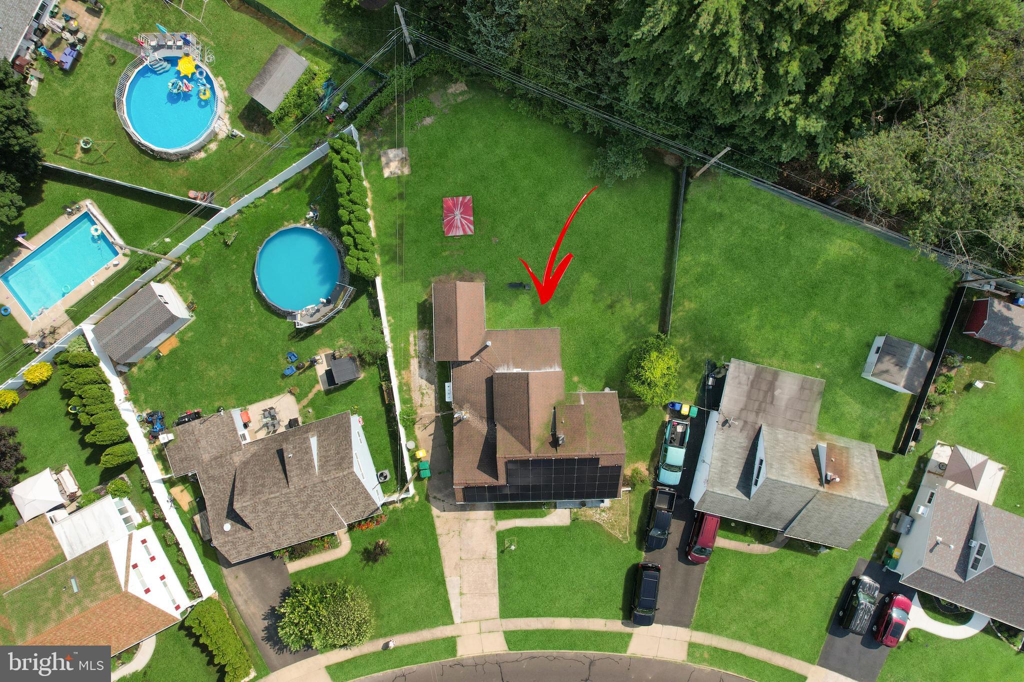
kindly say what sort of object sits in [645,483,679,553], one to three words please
truck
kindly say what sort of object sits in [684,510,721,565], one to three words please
car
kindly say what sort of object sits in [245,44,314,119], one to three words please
shed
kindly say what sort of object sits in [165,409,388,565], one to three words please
house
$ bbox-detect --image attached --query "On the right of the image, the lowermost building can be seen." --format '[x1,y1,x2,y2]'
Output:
[883,482,1024,632]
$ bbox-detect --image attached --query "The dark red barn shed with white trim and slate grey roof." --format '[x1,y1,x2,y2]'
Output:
[958,297,1024,354]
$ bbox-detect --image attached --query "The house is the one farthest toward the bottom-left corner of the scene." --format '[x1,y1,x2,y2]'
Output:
[0,490,196,682]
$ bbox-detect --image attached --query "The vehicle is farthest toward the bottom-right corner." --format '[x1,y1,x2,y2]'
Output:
[870,587,913,649]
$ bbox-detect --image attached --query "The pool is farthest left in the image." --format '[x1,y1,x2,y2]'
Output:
[0,210,120,321]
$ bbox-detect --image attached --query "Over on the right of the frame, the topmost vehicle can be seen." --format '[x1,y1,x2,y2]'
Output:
[656,417,691,487]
